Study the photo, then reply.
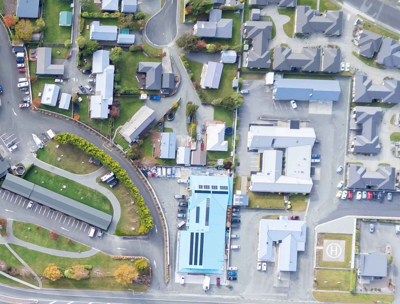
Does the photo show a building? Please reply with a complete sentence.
Yes, the photo shows a building.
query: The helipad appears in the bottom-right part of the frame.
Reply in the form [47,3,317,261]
[323,240,345,262]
